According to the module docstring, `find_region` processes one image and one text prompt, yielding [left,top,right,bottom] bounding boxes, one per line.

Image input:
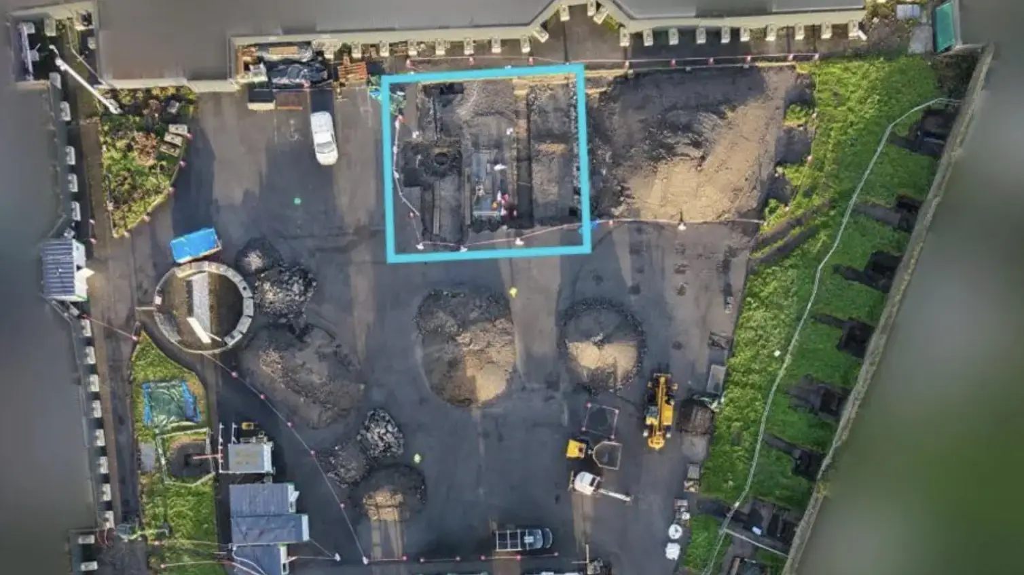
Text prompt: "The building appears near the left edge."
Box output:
[42,238,99,302]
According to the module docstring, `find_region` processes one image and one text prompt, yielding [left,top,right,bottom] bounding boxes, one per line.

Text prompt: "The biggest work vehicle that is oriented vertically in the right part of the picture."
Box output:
[642,369,678,448]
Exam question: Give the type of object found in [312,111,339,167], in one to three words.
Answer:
car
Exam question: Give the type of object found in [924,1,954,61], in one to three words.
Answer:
shipping container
